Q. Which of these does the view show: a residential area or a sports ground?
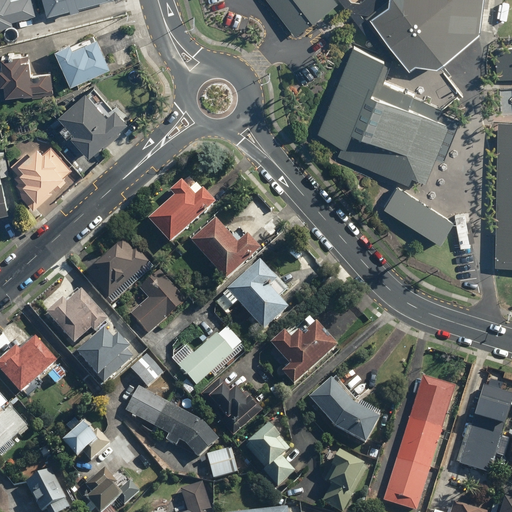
residential area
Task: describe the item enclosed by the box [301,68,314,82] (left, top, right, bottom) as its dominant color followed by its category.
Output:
gray vehicle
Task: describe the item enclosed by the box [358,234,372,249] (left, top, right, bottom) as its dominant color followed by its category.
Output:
red car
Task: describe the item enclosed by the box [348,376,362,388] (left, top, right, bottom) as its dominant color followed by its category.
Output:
white vehicle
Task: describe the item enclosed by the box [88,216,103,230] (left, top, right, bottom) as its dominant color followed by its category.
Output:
white vehicle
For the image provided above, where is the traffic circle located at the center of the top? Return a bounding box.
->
[196,78,238,118]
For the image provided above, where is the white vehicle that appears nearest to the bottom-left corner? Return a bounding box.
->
[98,447,112,461]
